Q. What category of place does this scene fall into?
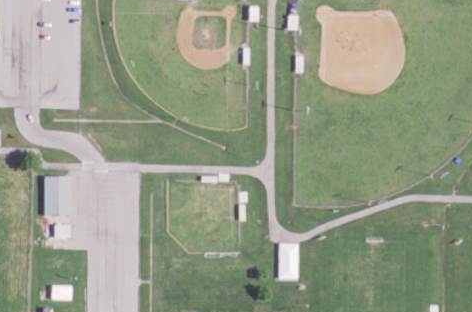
sports ground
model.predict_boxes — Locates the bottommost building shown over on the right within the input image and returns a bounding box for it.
[276,242,299,282]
